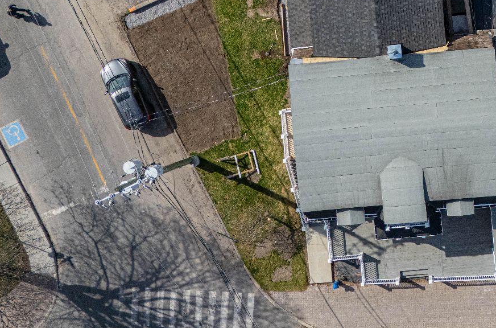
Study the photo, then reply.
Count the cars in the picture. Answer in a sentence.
In total, there is 1 car in the scene.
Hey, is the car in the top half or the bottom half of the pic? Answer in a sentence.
Seen from above, the car lies in the top half of the view.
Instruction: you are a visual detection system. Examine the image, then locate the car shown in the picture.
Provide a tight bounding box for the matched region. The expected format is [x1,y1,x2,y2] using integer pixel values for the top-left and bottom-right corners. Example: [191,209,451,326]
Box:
[101,54,156,134]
